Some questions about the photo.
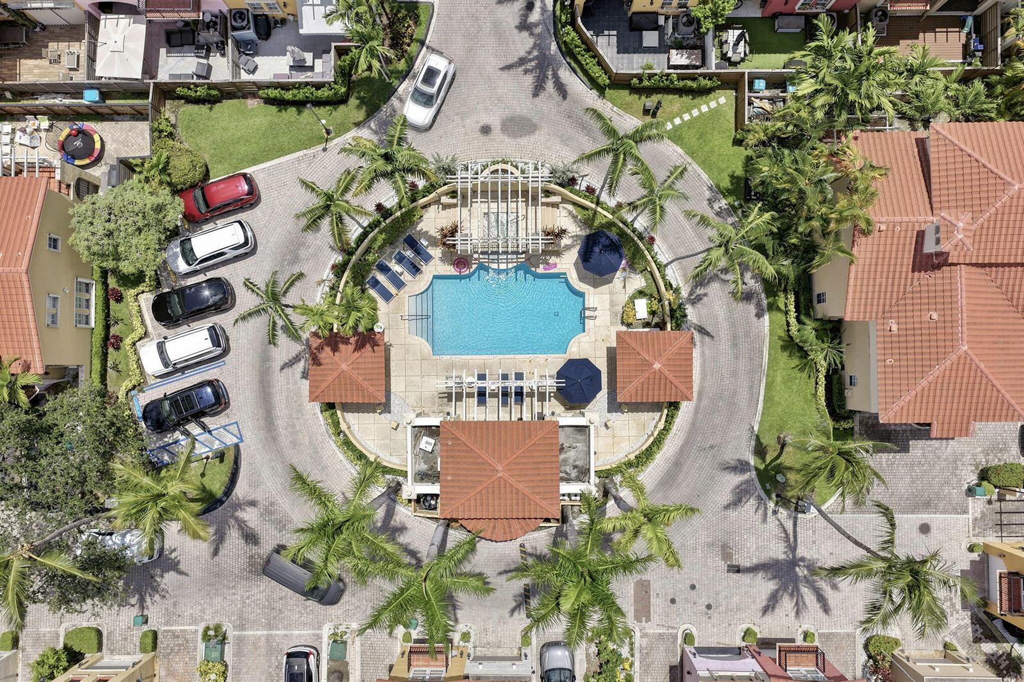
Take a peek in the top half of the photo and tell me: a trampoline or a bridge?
trampoline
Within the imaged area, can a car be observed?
Yes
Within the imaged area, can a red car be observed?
Yes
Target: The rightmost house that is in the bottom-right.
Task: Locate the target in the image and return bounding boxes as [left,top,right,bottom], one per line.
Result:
[980,543,1024,622]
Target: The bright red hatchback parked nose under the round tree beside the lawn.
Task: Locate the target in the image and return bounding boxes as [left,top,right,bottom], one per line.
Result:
[177,174,260,225]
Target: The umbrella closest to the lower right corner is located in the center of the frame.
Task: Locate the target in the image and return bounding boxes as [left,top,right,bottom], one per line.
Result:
[555,358,600,403]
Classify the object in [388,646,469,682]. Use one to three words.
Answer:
house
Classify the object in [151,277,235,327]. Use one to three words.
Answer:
car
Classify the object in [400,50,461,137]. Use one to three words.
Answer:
car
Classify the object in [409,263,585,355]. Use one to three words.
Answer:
swimming pool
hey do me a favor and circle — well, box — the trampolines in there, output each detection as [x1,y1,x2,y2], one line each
[42,115,108,170]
